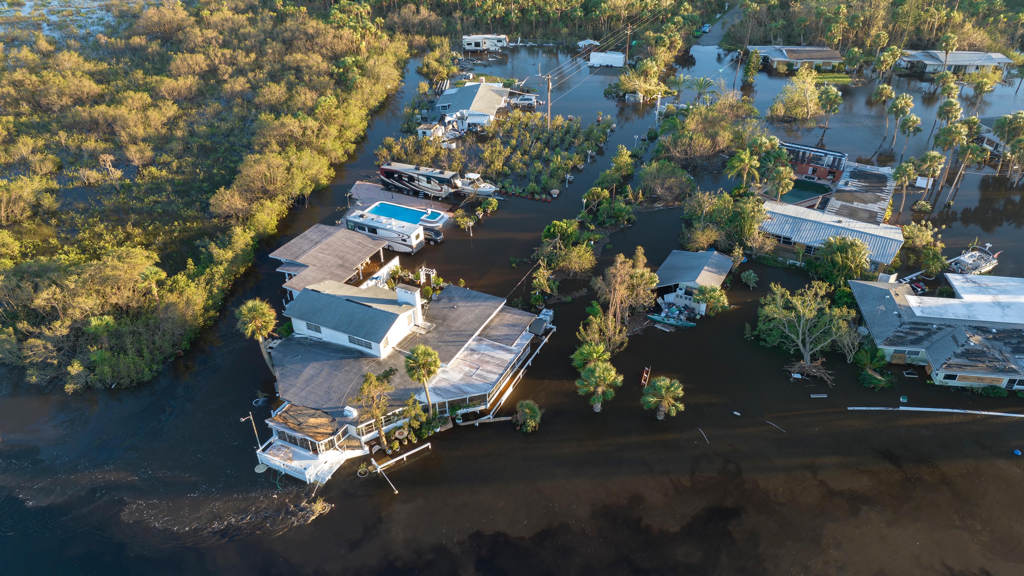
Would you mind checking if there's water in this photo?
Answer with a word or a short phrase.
Yes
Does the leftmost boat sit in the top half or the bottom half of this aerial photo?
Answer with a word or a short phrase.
top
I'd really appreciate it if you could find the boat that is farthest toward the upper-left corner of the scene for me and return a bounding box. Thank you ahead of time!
[459,175,499,196]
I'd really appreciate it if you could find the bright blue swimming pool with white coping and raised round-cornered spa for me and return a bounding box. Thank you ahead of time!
[359,201,449,227]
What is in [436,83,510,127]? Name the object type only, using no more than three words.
house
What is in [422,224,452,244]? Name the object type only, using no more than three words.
car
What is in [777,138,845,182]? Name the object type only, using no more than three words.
house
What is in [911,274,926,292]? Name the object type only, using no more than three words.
boat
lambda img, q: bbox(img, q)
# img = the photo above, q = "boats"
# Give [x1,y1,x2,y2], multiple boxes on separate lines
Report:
[957,243,1002,275]
[911,274,926,292]
[647,313,697,327]
[459,175,499,196]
